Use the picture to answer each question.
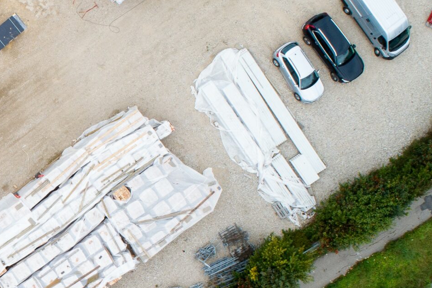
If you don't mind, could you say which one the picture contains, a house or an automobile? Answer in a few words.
automobile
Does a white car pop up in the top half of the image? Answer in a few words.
Yes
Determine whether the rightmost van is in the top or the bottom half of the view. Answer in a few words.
top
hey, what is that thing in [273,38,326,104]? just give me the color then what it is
white car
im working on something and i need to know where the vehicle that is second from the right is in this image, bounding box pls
[304,11,367,87]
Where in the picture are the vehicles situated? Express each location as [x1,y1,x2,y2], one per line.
[273,38,326,104]
[304,11,367,87]
[345,0,417,65]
